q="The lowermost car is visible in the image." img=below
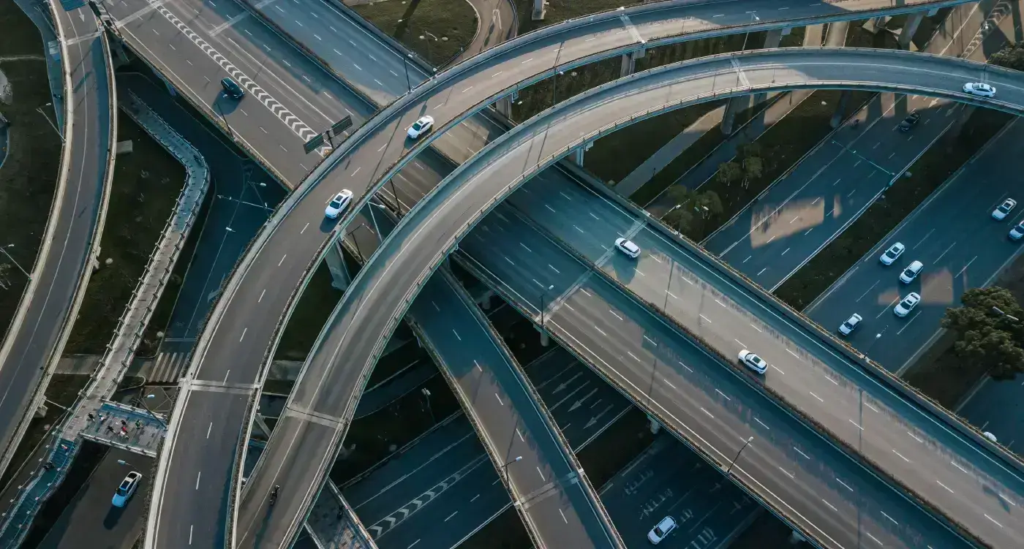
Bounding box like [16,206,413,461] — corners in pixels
[645,513,679,545]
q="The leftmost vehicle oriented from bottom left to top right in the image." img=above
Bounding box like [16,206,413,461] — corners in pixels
[111,472,141,507]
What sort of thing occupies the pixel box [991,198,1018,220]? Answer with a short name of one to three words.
car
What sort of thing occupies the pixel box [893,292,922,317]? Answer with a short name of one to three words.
car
